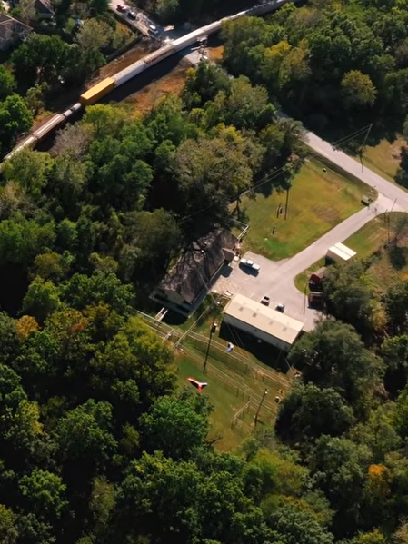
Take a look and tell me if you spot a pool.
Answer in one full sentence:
No, this view has no pool in it.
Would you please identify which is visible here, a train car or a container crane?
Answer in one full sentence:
The image shows a train car.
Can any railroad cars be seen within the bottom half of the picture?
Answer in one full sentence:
No, no railroad car can be made out within the bottom half of the picture.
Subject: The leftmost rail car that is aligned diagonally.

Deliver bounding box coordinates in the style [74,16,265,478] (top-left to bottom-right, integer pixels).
[2,136,36,166]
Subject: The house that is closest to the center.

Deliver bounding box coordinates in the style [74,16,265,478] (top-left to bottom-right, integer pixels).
[138,233,251,335]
